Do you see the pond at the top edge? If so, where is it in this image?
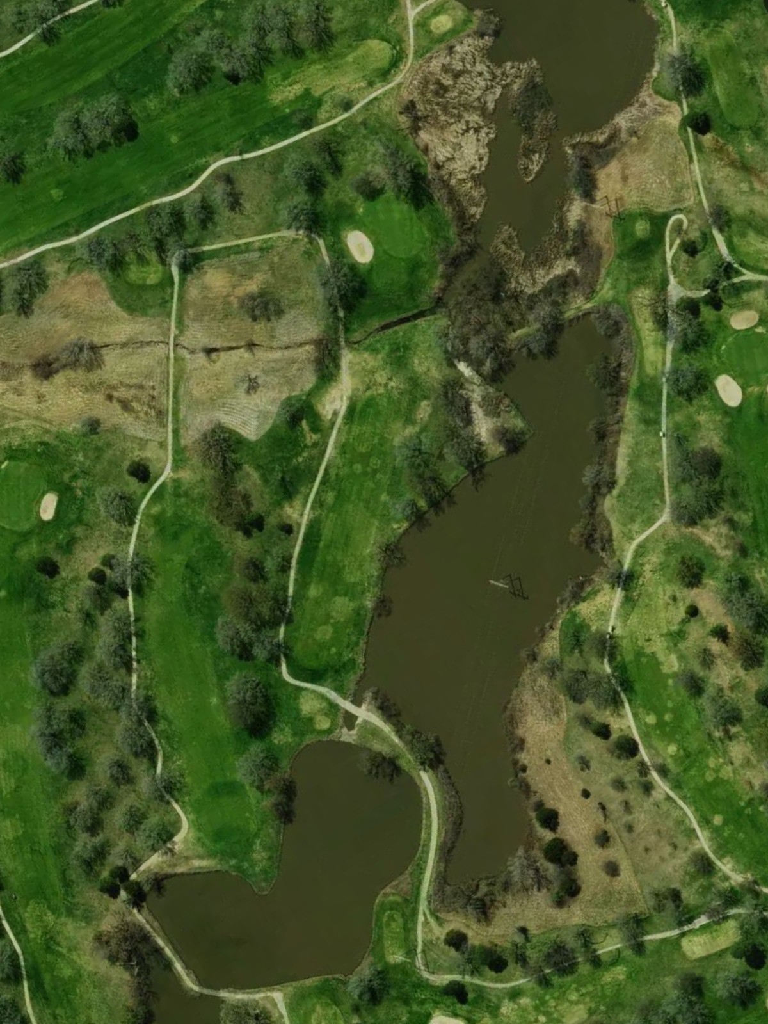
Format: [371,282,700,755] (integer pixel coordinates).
[438,0,671,308]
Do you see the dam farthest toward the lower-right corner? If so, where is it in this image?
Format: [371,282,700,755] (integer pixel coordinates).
[358,717,456,915]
